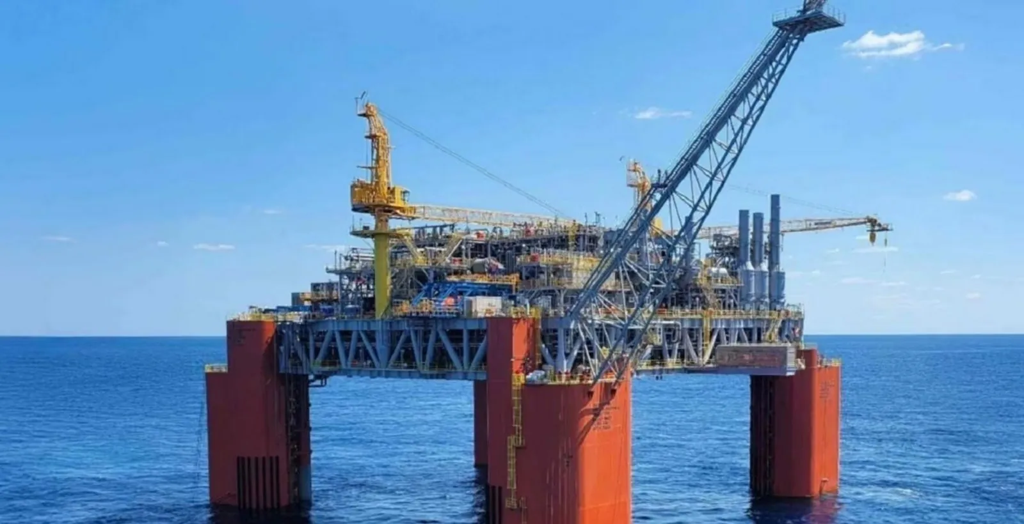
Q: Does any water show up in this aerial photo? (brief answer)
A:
Yes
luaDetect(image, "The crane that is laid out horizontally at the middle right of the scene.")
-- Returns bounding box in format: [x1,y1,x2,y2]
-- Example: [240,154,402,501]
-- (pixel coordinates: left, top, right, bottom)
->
[623,147,896,272]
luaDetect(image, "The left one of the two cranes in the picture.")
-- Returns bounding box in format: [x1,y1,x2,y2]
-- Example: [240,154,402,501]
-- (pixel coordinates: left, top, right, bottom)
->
[345,86,587,319]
